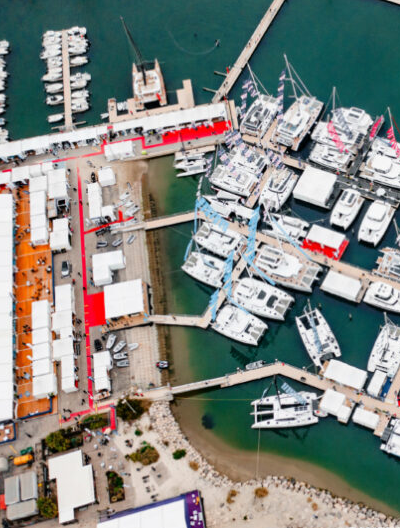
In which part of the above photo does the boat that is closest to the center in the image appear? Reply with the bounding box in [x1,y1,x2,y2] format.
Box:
[183,238,229,289]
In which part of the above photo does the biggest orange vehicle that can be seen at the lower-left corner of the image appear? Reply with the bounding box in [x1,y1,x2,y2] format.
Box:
[10,452,34,467]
